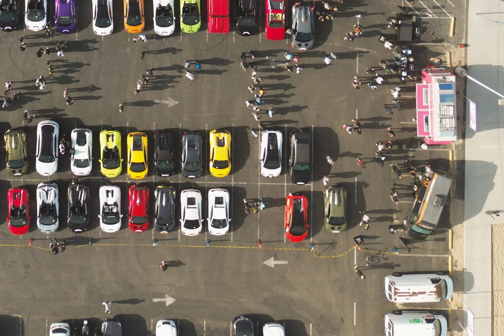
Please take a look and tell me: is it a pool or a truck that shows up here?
truck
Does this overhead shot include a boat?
No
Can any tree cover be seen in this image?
No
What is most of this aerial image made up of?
paved ground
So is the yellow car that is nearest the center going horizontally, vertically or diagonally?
vertically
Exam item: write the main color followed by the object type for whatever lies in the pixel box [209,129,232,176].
yellow car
